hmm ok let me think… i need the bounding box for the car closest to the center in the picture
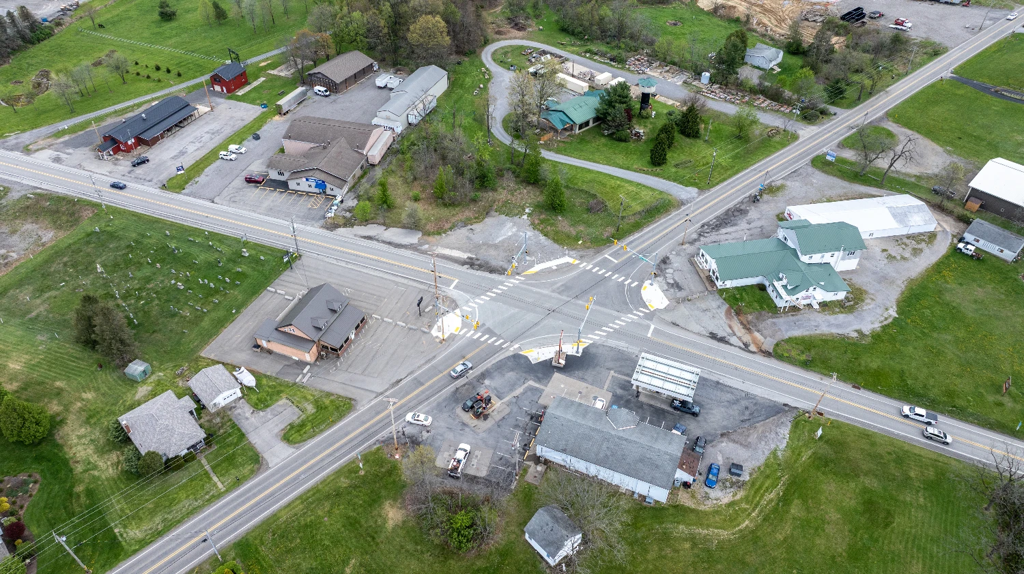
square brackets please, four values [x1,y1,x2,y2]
[448,360,474,376]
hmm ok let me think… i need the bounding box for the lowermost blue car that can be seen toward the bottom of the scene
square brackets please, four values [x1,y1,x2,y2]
[705,460,722,488]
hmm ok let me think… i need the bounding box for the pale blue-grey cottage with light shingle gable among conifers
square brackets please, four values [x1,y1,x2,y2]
[745,42,783,68]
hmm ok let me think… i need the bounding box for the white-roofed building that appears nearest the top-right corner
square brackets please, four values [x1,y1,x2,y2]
[964,150,1024,223]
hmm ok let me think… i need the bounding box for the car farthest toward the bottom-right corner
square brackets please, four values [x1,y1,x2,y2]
[923,423,956,445]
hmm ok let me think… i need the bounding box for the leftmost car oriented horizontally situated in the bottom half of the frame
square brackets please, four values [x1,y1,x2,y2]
[404,410,433,425]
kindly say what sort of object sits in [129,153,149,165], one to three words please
vehicle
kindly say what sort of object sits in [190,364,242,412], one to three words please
building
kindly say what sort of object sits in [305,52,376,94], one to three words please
barn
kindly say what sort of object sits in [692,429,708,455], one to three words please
car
